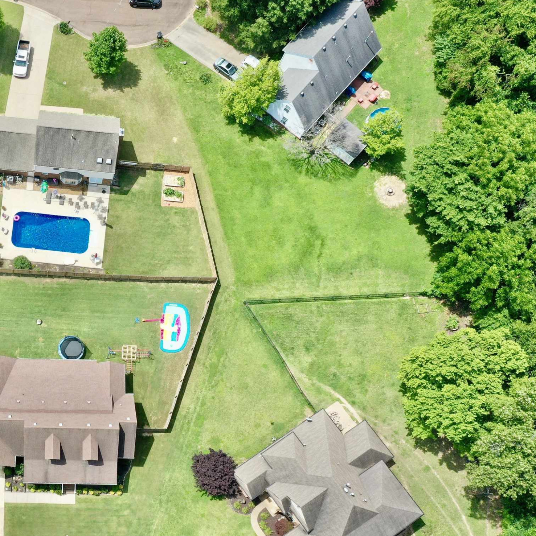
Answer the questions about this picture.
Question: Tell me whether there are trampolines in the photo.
Yes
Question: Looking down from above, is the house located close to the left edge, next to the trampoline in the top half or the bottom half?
bottom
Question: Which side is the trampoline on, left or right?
left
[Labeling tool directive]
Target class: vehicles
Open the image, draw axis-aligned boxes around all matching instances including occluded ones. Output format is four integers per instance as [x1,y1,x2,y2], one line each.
[129,0,162,11]
[15,37,31,79]
[241,53,268,71]
[213,58,237,77]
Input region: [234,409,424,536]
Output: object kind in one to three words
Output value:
house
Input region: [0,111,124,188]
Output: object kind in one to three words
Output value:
house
